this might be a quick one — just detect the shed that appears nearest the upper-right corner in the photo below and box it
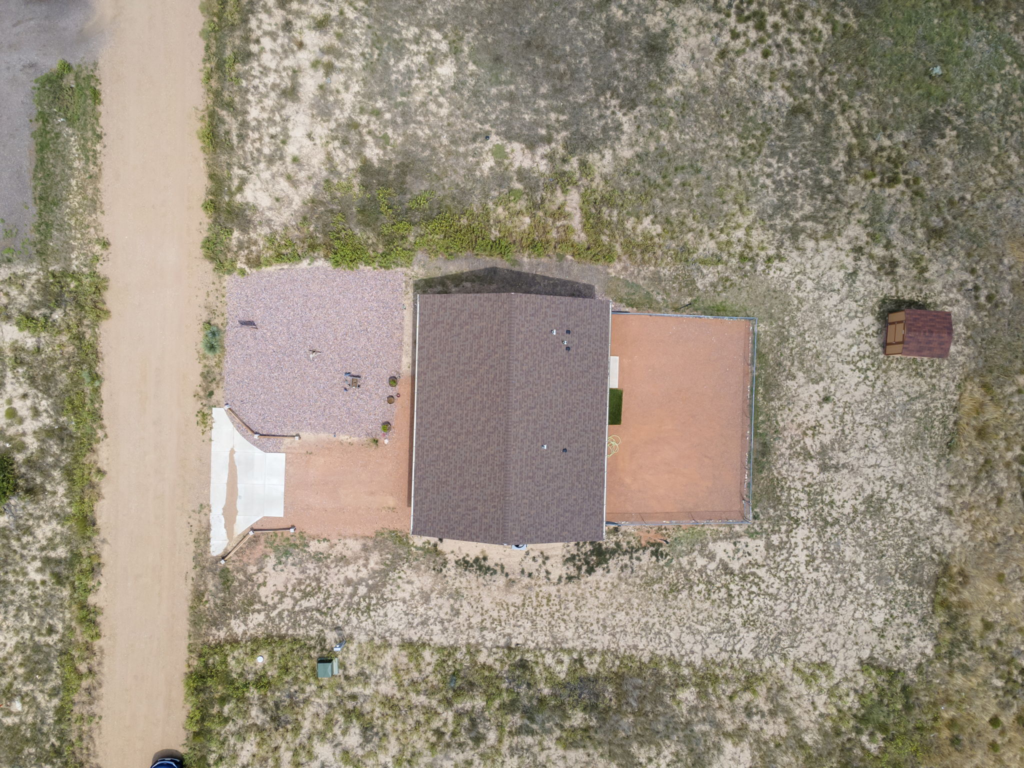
[886,310,957,356]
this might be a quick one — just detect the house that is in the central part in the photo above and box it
[410,292,621,546]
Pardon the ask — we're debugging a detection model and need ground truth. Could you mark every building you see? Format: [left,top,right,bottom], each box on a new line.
[410,292,621,546]
[886,310,957,356]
